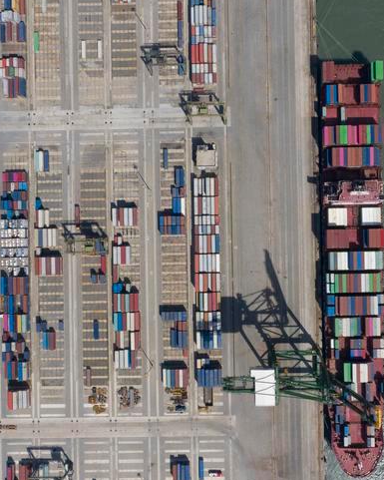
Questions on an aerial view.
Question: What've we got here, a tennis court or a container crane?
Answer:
container crane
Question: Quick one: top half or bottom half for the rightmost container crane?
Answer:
bottom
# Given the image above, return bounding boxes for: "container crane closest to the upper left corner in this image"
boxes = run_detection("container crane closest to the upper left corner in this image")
[146,52,187,79]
